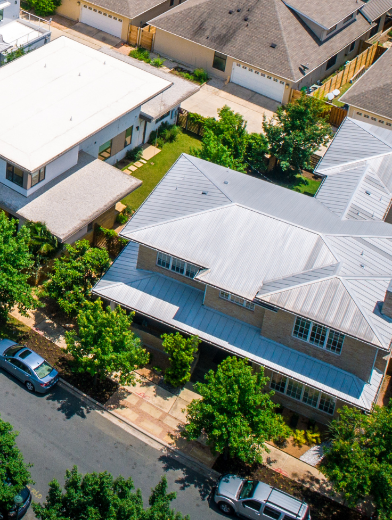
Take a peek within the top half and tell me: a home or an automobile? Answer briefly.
home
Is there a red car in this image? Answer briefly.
No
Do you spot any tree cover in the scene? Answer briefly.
Yes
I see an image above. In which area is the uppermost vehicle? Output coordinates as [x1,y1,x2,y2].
[0,341,62,399]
